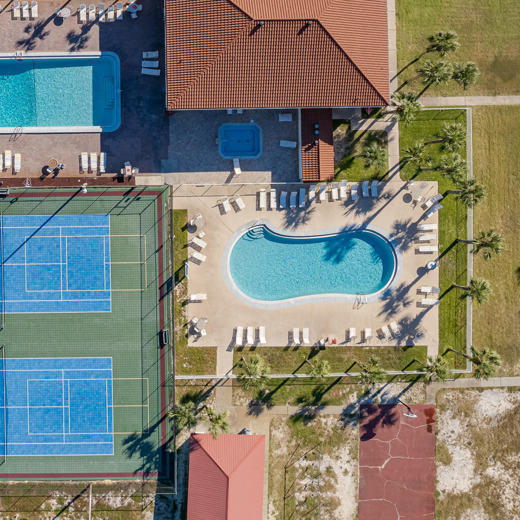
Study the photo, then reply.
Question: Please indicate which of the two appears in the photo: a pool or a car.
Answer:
pool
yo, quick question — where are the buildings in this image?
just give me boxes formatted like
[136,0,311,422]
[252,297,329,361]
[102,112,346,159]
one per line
[184,423,265,520]
[165,0,392,110]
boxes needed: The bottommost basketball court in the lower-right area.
[358,405,436,520]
